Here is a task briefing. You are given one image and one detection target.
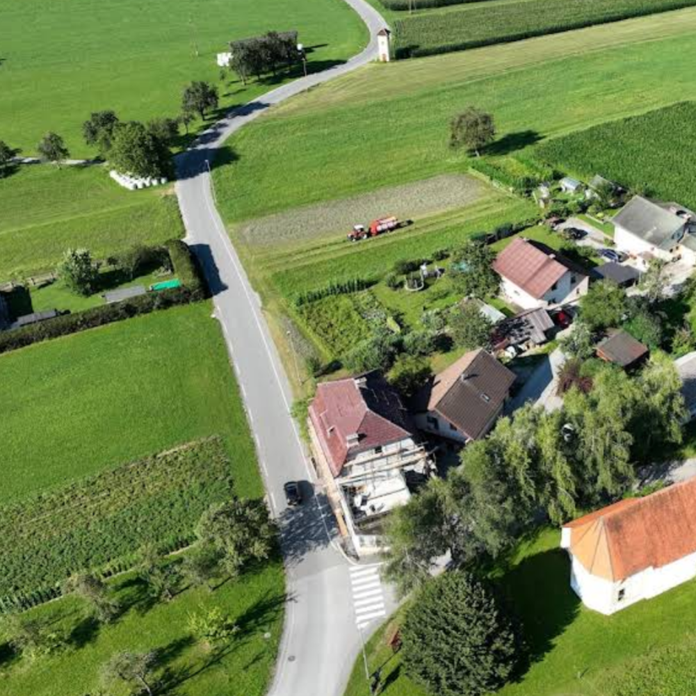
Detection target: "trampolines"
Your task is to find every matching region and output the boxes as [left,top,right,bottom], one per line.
[402,272,426,289]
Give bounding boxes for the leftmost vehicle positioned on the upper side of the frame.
[345,222,371,243]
